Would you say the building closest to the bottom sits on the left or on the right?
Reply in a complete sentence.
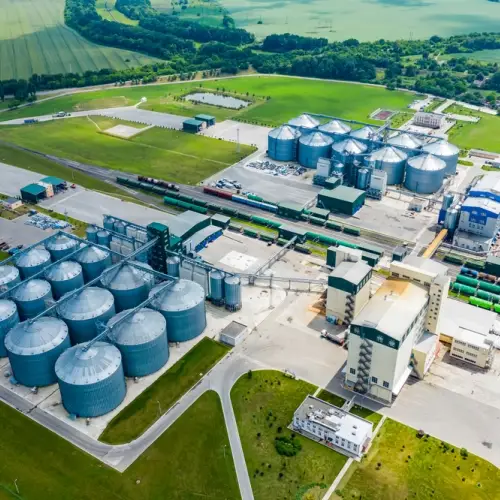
You can find the building closest to the bottom on the right side of the picture.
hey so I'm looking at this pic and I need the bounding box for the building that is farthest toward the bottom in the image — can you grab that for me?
[287,390,377,459]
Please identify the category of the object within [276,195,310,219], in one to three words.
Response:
shed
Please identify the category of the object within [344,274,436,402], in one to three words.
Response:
building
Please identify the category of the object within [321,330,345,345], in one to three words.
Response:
vehicle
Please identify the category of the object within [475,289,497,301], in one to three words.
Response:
rail car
